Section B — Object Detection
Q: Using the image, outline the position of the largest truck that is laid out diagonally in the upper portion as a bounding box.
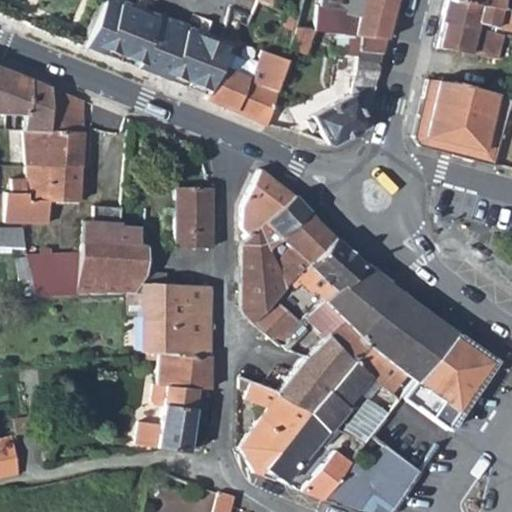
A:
[368,168,401,196]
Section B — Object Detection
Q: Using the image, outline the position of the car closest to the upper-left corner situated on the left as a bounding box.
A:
[46,63,66,77]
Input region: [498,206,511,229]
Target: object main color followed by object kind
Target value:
white vehicle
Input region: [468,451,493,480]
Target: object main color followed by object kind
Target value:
white vehicle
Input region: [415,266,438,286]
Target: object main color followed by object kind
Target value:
white car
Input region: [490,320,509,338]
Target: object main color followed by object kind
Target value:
white car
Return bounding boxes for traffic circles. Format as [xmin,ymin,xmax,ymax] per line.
[358,178,394,216]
